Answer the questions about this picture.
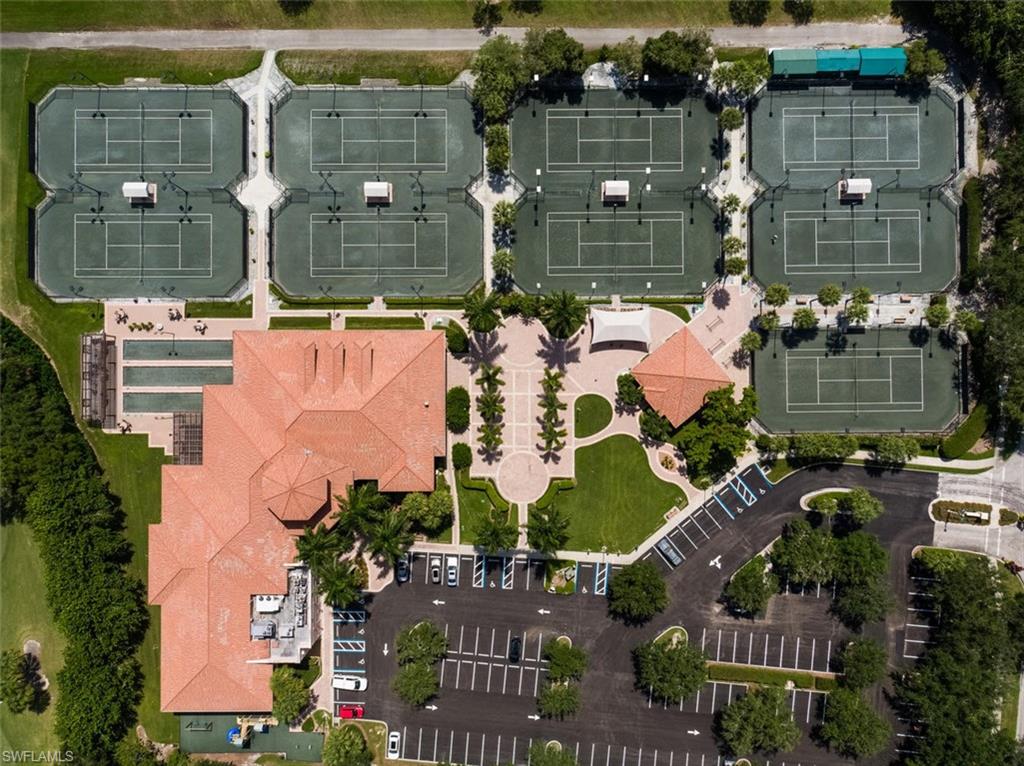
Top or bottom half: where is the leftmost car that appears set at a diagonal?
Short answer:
bottom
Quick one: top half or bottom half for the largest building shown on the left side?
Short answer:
bottom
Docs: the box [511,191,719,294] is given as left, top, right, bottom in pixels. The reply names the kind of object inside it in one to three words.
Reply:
tennis court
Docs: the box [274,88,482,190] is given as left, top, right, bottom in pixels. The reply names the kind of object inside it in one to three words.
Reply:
tennis court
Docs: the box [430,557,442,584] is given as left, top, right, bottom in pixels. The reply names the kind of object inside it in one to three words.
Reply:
vehicle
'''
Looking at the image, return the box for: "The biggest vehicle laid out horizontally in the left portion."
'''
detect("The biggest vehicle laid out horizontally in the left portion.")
[332,675,367,691]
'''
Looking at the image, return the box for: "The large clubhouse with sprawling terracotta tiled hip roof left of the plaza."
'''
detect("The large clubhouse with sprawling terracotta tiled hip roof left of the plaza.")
[147,330,446,713]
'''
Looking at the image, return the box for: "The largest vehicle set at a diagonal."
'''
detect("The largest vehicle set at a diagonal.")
[656,537,682,565]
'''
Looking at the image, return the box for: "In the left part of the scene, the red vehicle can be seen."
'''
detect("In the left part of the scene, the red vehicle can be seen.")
[339,705,365,720]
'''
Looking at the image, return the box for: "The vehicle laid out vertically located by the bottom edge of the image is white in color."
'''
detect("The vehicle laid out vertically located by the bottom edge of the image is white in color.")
[388,730,401,759]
